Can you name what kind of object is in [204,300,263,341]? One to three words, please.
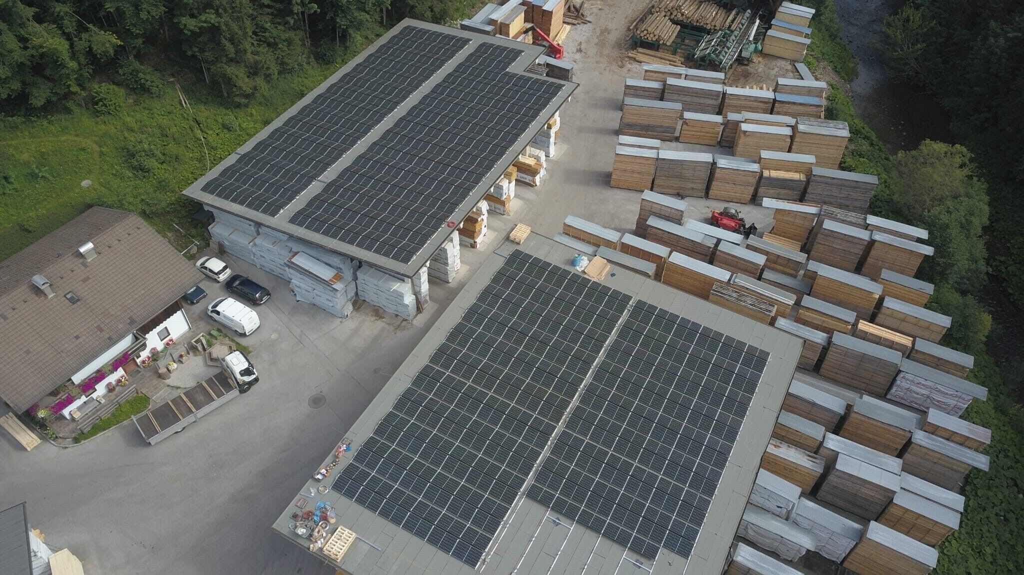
van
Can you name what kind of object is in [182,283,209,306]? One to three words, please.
car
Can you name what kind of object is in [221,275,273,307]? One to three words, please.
car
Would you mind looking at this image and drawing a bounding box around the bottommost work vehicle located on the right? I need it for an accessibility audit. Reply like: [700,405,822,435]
[705,199,758,243]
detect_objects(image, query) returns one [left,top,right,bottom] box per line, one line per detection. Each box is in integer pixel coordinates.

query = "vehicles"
[221,275,273,307]
[705,199,758,243]
[134,354,265,441]
[519,24,563,65]
[193,256,233,283]
[182,283,209,306]
[204,300,263,341]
